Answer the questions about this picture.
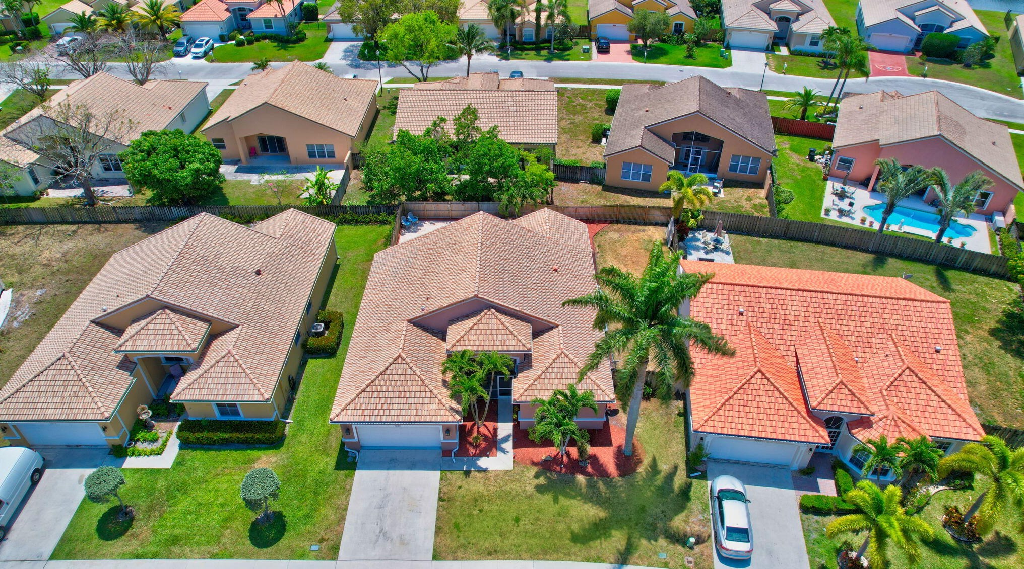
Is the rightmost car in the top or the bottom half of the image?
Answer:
bottom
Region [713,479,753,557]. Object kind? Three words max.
car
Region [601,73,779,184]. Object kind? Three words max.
house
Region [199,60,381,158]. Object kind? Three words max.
house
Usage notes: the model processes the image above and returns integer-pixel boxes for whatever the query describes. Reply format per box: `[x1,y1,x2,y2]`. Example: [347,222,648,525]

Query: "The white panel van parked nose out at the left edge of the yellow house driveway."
[0,448,41,538]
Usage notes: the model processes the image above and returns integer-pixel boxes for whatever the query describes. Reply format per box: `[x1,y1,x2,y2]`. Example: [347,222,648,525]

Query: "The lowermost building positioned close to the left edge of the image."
[0,206,339,446]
